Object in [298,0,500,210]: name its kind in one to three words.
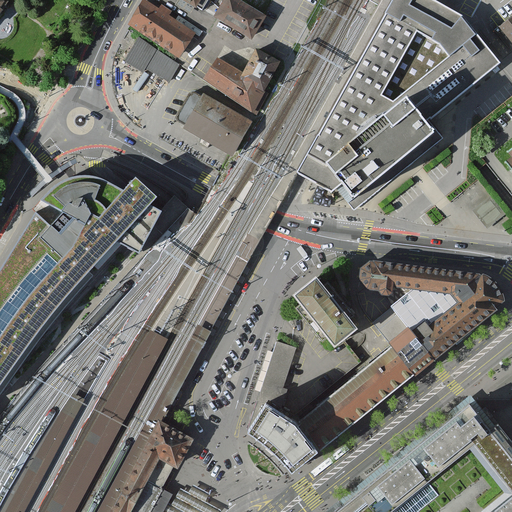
building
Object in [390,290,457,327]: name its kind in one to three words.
building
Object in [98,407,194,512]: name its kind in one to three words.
train station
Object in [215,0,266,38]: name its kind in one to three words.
house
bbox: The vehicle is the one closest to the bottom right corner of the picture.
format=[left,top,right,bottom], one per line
[308,445,350,478]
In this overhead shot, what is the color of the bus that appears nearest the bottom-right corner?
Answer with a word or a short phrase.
white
